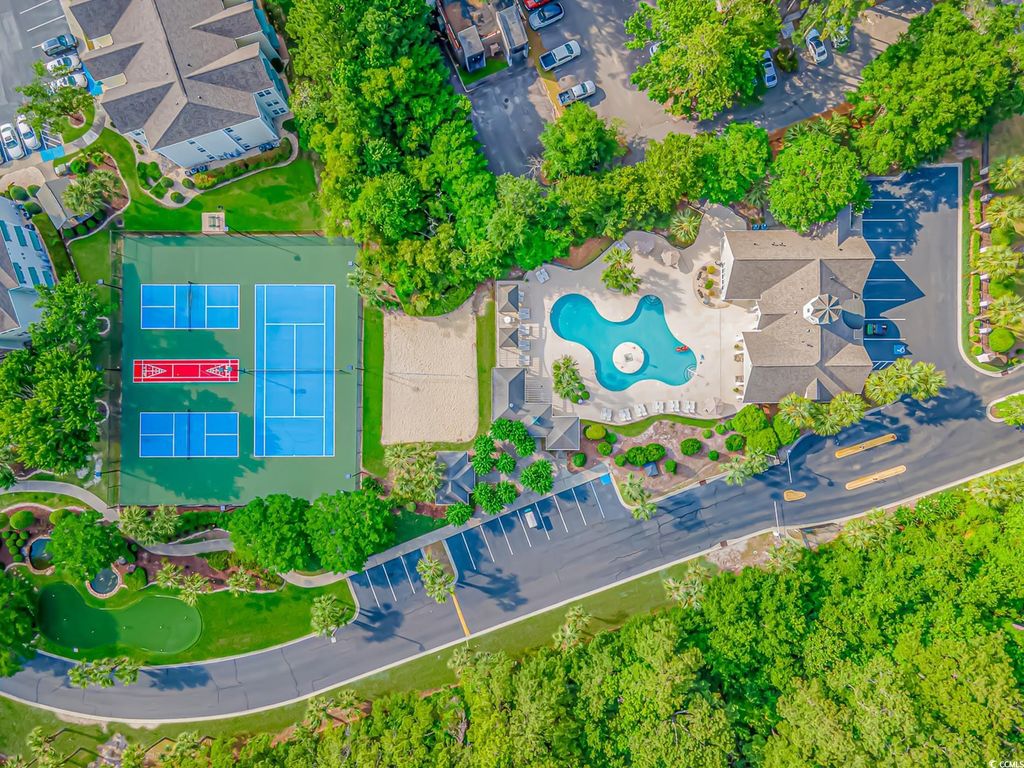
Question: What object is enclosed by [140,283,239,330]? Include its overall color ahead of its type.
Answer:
blue sports court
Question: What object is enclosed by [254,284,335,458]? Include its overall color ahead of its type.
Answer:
blue tennis court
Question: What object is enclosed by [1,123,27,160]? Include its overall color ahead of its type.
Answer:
white car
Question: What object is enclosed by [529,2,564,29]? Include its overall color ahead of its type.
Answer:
blue car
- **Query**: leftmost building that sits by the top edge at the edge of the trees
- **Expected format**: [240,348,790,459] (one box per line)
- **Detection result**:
[69,0,286,166]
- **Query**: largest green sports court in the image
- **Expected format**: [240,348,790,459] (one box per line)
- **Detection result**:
[119,234,357,505]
